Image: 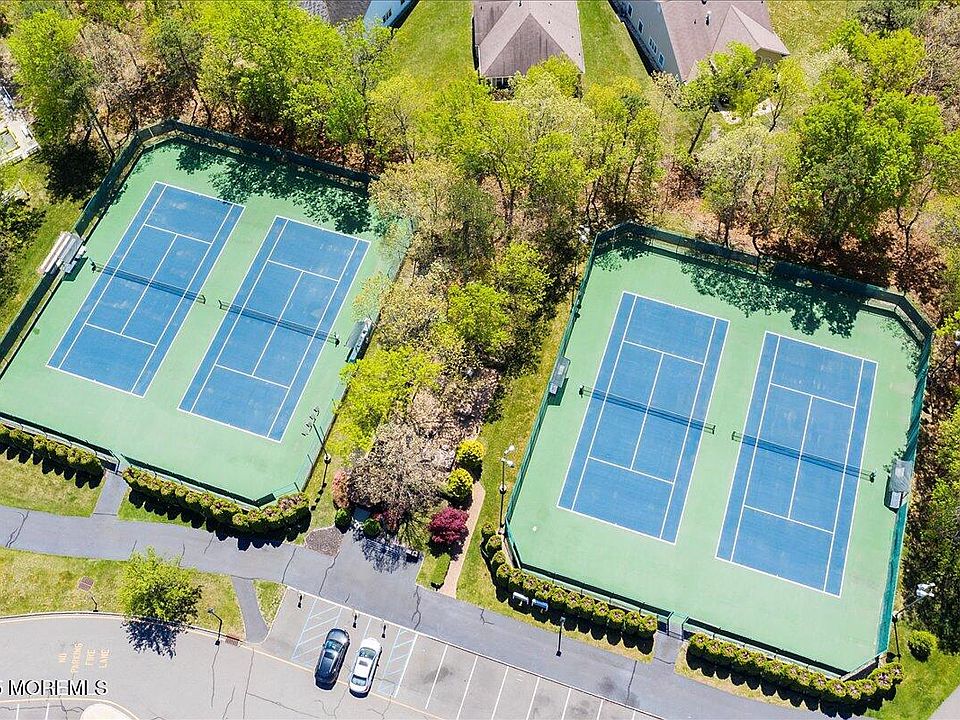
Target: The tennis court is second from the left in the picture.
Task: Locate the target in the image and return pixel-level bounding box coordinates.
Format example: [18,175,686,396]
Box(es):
[178,216,370,442]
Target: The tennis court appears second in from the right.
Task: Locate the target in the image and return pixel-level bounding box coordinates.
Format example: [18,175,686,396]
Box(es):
[558,291,730,544]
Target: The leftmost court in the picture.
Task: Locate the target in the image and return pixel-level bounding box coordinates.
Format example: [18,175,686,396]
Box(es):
[46,181,244,398]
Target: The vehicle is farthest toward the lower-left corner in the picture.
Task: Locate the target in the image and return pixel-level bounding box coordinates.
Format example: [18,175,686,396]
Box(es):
[312,628,350,691]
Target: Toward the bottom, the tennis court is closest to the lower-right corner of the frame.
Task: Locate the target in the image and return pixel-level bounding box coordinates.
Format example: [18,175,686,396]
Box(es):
[715,331,878,598]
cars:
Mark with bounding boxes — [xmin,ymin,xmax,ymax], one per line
[348,638,382,698]
[312,628,350,691]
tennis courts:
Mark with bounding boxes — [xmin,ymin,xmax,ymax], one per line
[46,181,244,398]
[178,216,370,442]
[715,331,878,598]
[558,291,730,544]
